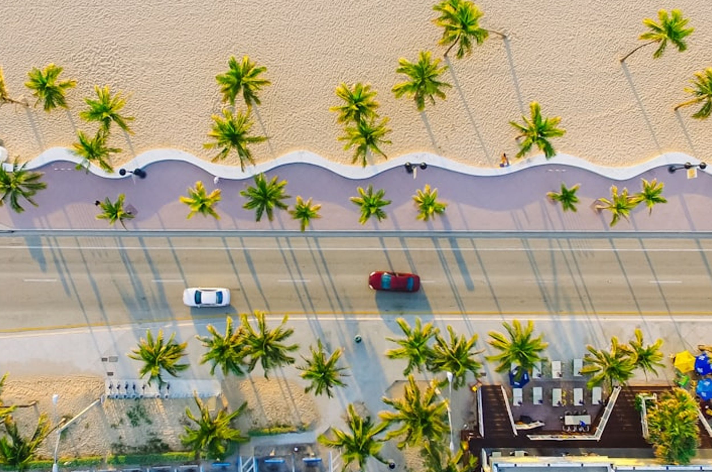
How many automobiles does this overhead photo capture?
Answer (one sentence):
There are 2 automobiles in the image.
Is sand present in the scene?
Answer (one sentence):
Yes, sand shows up in the scene.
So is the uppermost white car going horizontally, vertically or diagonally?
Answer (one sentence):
I'd say the uppermost white car is aligned horizontally in the picture.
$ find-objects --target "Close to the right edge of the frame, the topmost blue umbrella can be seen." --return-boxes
[693,353,712,375]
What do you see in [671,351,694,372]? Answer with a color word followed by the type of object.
yellow umbrella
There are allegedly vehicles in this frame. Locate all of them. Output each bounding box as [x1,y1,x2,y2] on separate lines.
[369,271,421,294]
[182,287,230,309]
